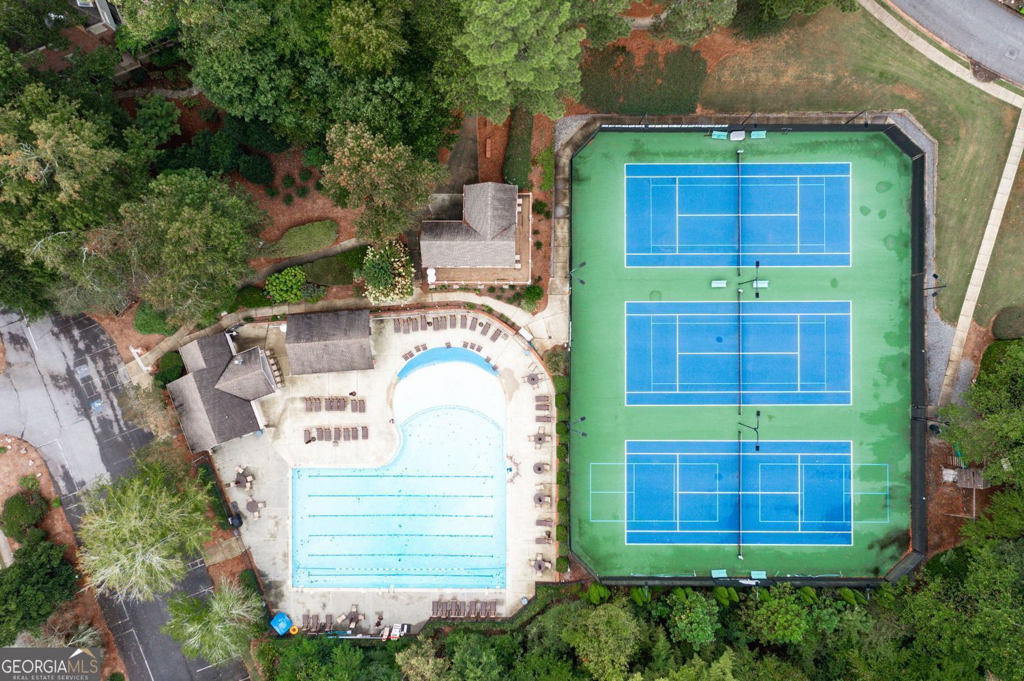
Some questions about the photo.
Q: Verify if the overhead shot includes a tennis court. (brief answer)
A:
Yes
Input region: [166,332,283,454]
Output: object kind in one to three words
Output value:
building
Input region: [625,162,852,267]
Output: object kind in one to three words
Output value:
tennis court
